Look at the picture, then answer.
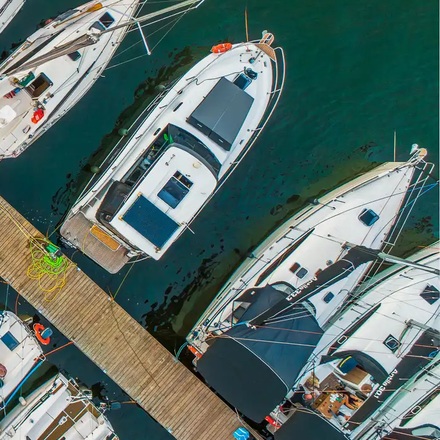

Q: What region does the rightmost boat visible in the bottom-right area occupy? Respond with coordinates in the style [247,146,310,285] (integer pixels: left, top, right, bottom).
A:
[356,358,440,440]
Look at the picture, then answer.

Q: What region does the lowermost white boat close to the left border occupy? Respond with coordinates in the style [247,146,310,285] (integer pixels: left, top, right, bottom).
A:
[0,370,121,440]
